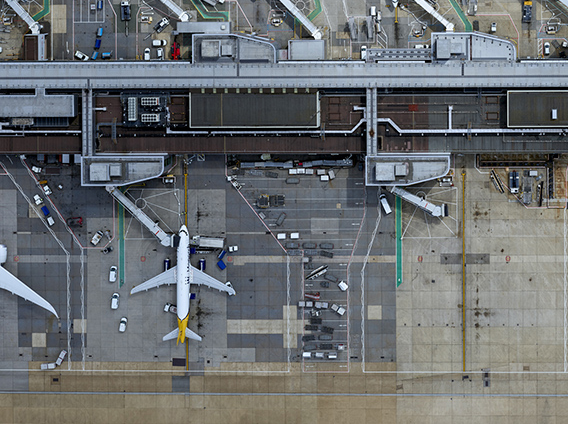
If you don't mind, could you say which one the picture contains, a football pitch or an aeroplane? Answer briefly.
aeroplane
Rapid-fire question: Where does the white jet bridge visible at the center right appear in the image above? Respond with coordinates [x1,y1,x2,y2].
[389,185,449,218]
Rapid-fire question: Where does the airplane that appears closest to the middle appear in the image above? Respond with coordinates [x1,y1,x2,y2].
[129,224,236,342]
